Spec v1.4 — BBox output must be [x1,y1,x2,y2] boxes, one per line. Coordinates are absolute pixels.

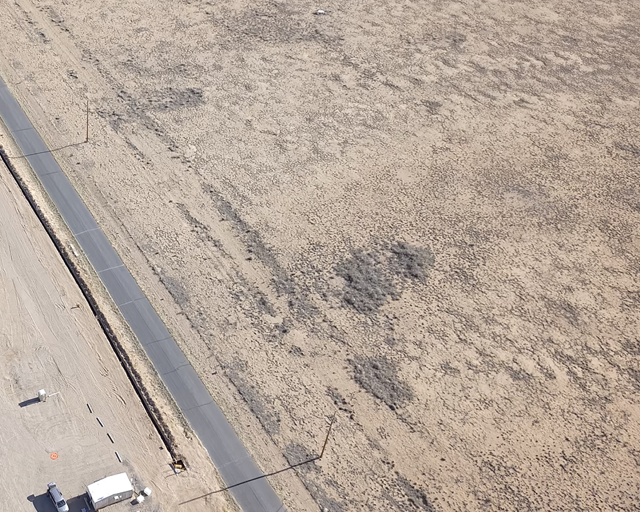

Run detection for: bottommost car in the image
[48,482,69,512]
